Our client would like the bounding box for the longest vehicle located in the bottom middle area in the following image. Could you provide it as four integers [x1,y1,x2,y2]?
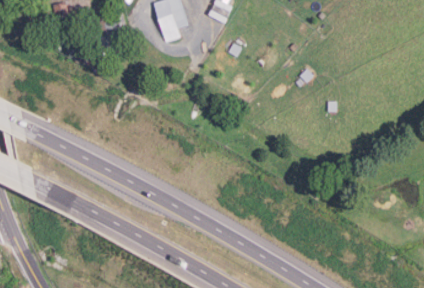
[166,254,186,268]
